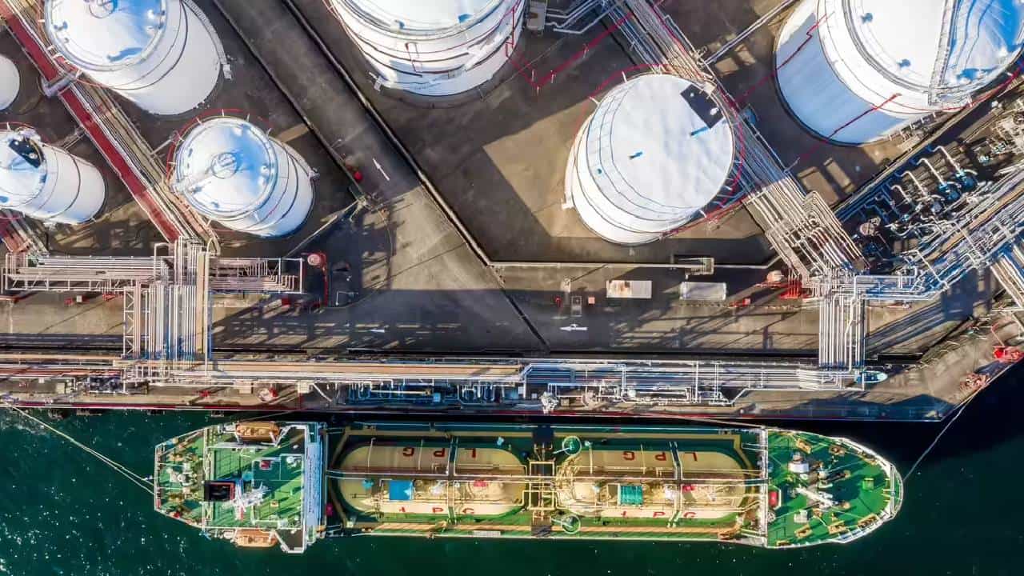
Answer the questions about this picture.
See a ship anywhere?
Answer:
Yes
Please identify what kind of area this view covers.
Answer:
industrial area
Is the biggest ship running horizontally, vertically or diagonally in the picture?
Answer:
horizontally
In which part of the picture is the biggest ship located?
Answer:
bottom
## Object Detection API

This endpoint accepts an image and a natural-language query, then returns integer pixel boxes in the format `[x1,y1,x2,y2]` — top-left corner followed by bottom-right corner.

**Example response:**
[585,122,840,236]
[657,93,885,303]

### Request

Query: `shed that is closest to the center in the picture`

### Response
[604,280,652,299]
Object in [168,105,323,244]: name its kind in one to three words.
storage tank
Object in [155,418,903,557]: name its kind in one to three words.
ship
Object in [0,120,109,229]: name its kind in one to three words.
storage tank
